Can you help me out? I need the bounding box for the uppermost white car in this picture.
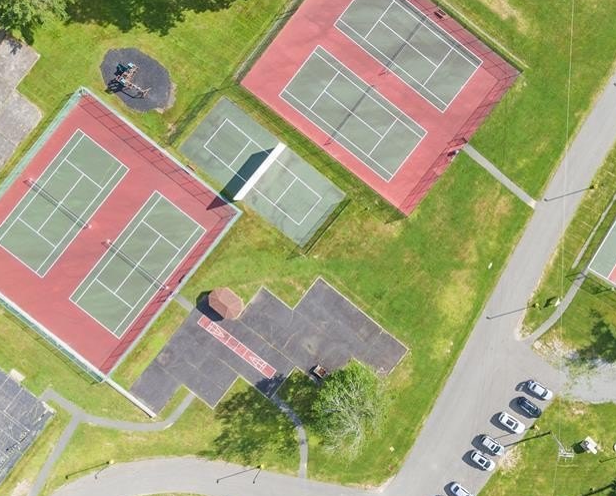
[526,379,553,402]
